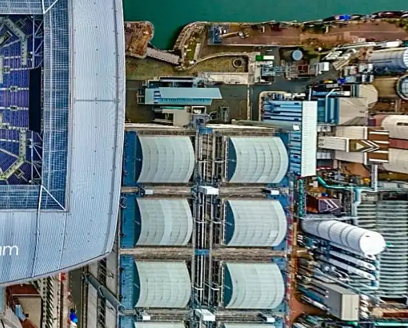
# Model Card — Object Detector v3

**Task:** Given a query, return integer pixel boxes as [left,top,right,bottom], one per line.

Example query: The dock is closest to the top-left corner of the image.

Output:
[122,21,153,58]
